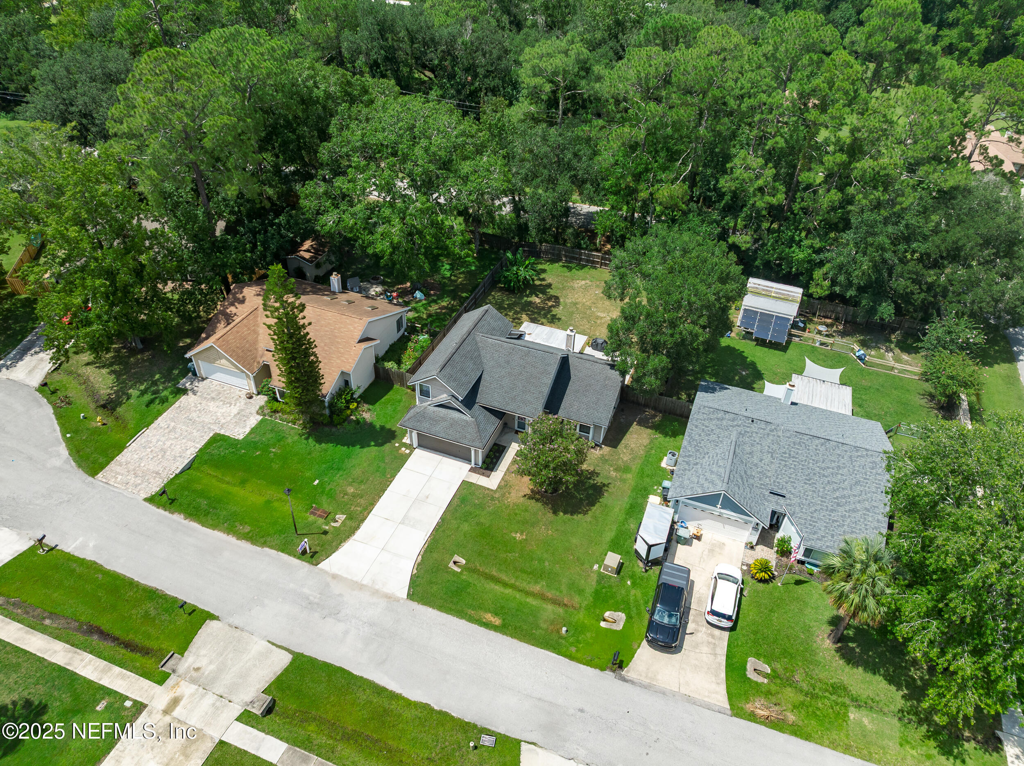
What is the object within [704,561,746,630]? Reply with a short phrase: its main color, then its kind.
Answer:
white car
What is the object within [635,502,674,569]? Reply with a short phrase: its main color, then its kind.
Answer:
white trailer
